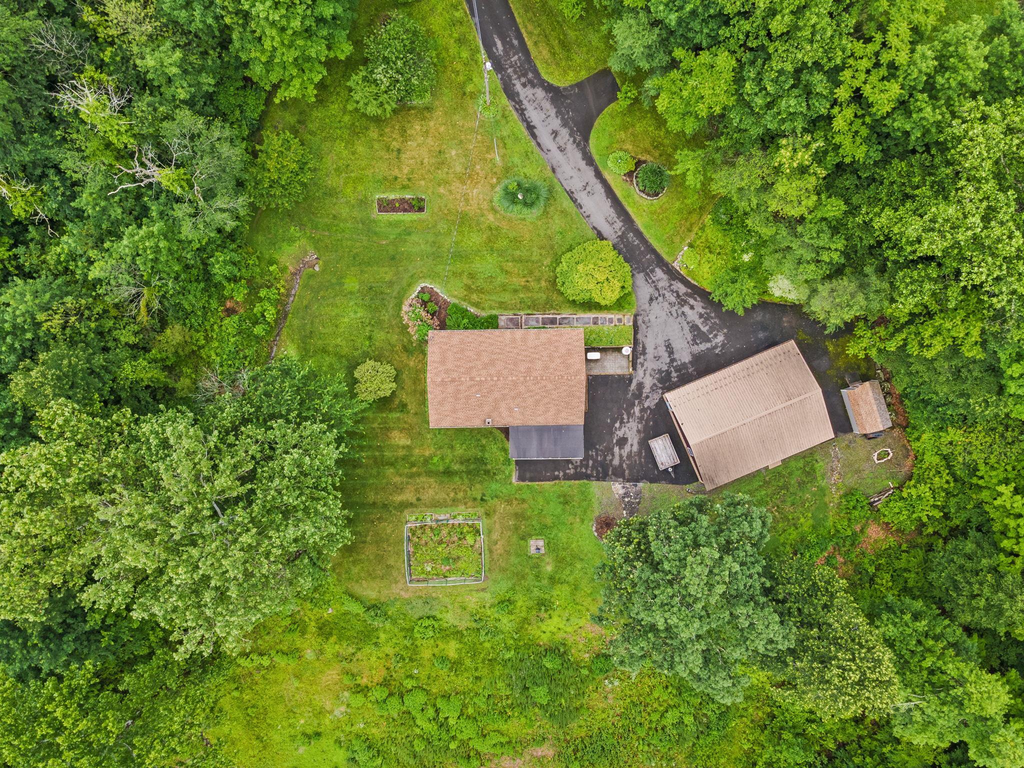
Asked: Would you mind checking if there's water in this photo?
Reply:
No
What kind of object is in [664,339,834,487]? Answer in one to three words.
building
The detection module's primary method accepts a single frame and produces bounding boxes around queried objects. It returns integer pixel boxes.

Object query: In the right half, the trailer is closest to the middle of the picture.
[648,433,680,480]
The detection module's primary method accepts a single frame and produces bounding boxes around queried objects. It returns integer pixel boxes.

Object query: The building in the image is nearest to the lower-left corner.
[427,327,589,460]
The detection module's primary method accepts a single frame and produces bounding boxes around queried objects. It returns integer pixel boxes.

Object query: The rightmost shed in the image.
[840,380,892,436]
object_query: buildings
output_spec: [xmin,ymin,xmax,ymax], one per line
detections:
[427,327,589,460]
[664,339,834,487]
[840,380,892,436]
